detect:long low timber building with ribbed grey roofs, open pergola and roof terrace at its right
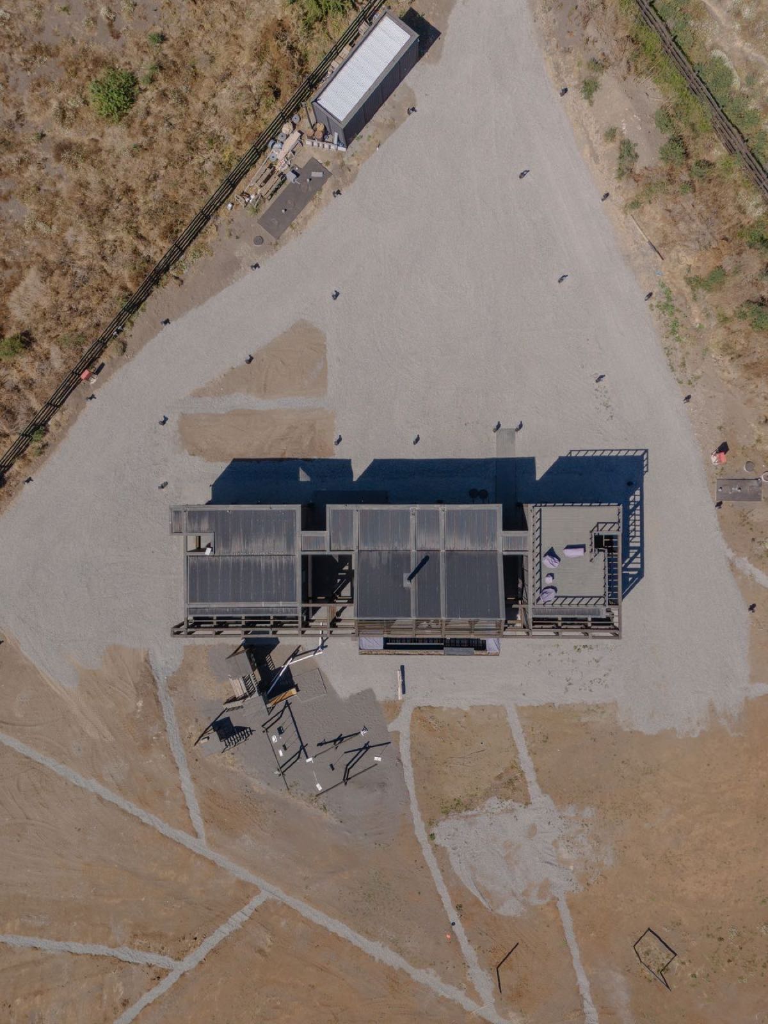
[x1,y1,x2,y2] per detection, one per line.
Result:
[170,504,624,637]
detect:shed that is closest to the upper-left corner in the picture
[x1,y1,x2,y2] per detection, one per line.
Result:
[310,9,419,147]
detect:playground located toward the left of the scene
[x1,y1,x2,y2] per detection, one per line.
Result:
[184,630,411,849]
